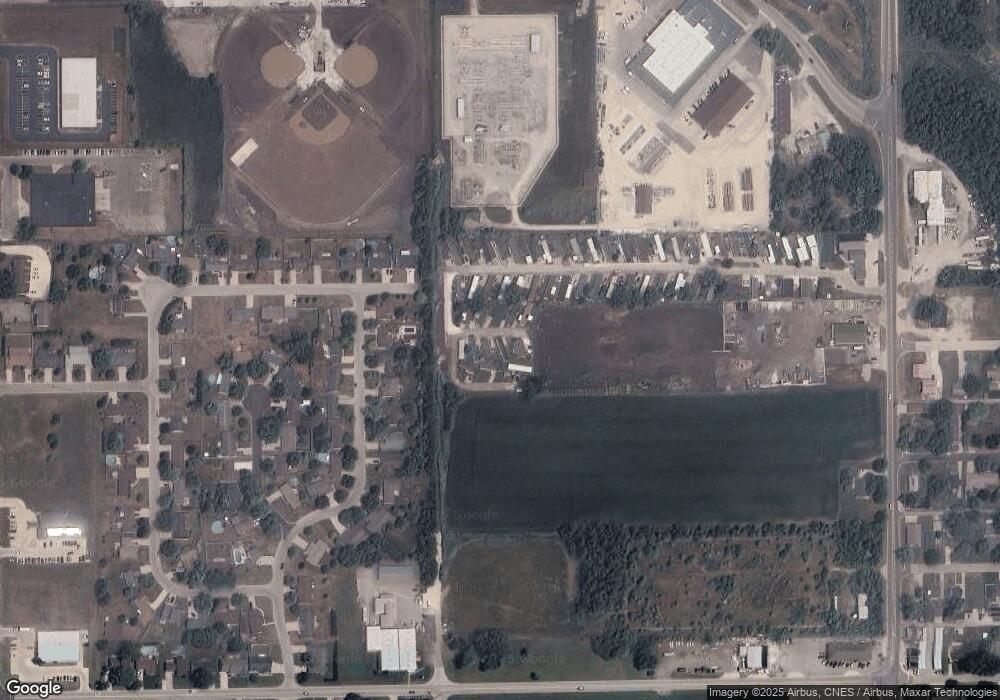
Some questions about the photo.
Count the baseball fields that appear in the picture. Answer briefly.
three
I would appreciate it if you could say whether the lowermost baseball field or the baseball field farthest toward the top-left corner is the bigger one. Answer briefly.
the lowermost baseball field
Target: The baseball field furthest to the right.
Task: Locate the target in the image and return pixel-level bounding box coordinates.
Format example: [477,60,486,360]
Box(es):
[331,9,416,125]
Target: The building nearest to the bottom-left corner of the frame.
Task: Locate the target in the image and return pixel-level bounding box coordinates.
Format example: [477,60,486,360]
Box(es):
[37,632,79,664]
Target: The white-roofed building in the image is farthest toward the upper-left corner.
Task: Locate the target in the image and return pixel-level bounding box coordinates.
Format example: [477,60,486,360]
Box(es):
[62,58,97,127]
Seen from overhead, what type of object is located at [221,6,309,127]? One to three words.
baseball field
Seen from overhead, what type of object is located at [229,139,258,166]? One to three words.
shed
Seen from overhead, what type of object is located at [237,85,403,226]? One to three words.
baseball field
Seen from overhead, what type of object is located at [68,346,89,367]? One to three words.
house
